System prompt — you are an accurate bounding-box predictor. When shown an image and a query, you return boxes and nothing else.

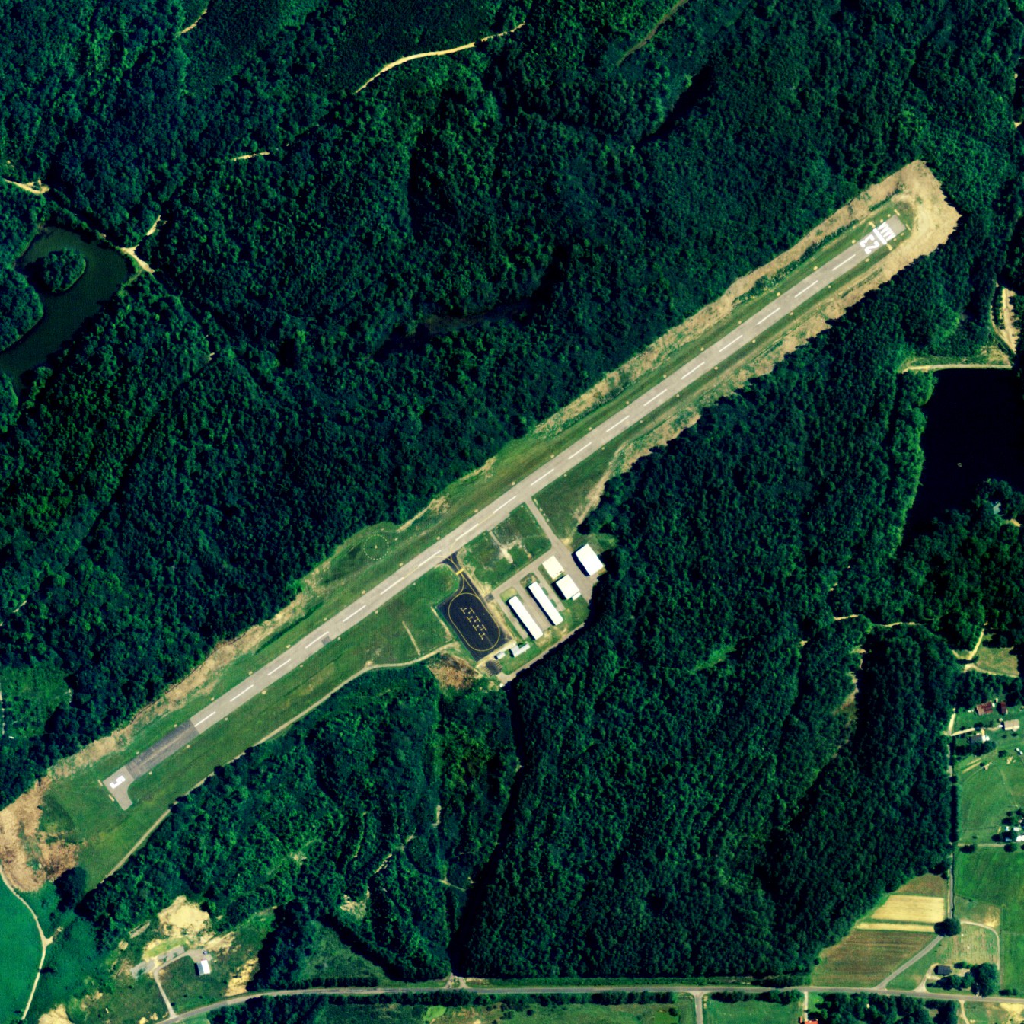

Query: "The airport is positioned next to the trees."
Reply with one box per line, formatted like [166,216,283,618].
[38,198,914,896]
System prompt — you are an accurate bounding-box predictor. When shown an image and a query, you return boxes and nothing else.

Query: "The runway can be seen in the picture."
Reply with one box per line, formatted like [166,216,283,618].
[103,215,905,810]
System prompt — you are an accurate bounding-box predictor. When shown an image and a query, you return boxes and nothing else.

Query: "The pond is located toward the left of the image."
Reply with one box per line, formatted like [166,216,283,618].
[0,225,127,403]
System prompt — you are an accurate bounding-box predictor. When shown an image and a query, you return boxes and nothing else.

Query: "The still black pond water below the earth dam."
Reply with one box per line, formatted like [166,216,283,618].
[901,367,1024,554]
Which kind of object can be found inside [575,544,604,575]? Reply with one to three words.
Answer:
hangar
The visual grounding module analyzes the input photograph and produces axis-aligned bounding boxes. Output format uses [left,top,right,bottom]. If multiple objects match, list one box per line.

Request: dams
[897,344,1012,375]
